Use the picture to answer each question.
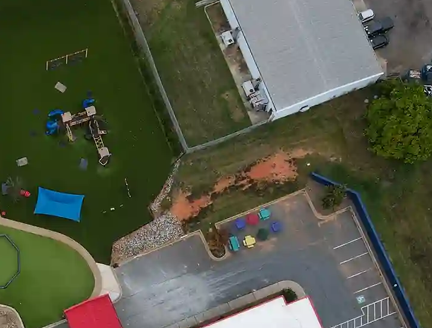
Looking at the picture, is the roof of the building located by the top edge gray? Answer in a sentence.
Yes, the roof of the building located by the top edge is gray.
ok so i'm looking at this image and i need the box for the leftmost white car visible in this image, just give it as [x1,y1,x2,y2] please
[358,6,379,23]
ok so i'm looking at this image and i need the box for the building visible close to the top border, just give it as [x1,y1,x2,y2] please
[218,0,383,119]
